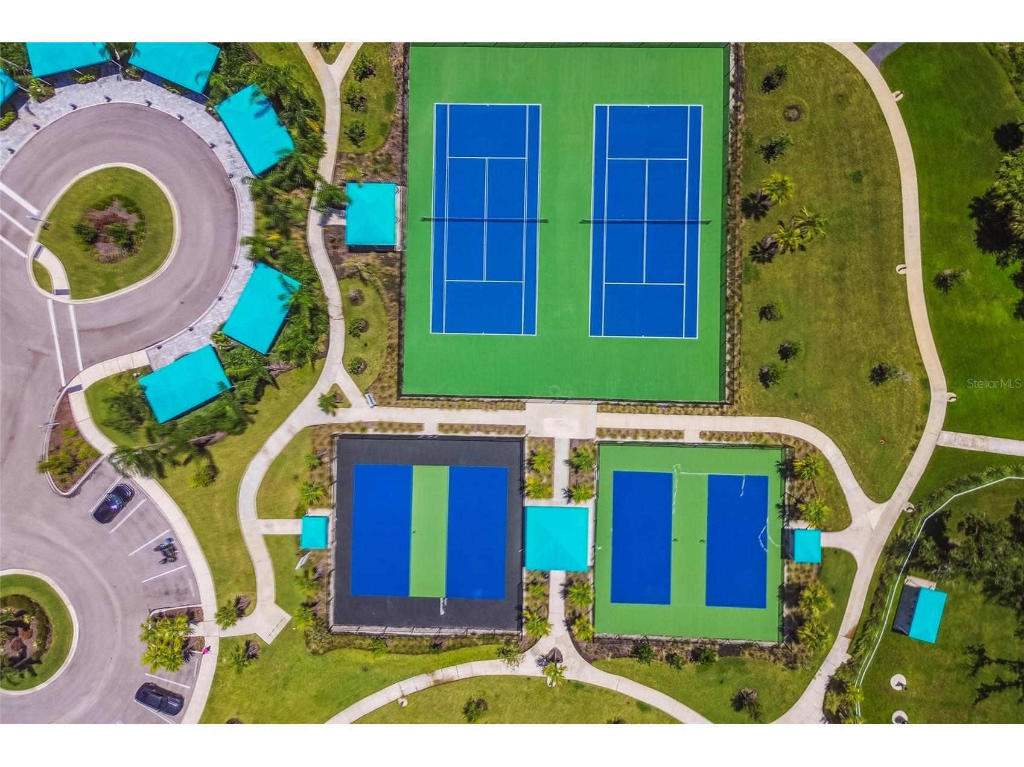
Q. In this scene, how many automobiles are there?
2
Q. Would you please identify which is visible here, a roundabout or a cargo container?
roundabout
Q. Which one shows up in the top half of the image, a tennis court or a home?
tennis court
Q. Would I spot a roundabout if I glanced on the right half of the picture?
No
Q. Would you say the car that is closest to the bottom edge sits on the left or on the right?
left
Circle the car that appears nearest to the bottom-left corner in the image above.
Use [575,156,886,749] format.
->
[132,682,186,715]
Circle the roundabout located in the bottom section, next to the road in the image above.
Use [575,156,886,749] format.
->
[0,569,78,696]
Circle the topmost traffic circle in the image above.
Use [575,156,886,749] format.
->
[26,162,182,304]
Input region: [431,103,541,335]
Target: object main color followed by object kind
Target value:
blue tennis court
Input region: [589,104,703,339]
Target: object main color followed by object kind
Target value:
blue tennis court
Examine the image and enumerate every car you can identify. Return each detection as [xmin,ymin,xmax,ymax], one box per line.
[91,482,137,526]
[132,682,186,715]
